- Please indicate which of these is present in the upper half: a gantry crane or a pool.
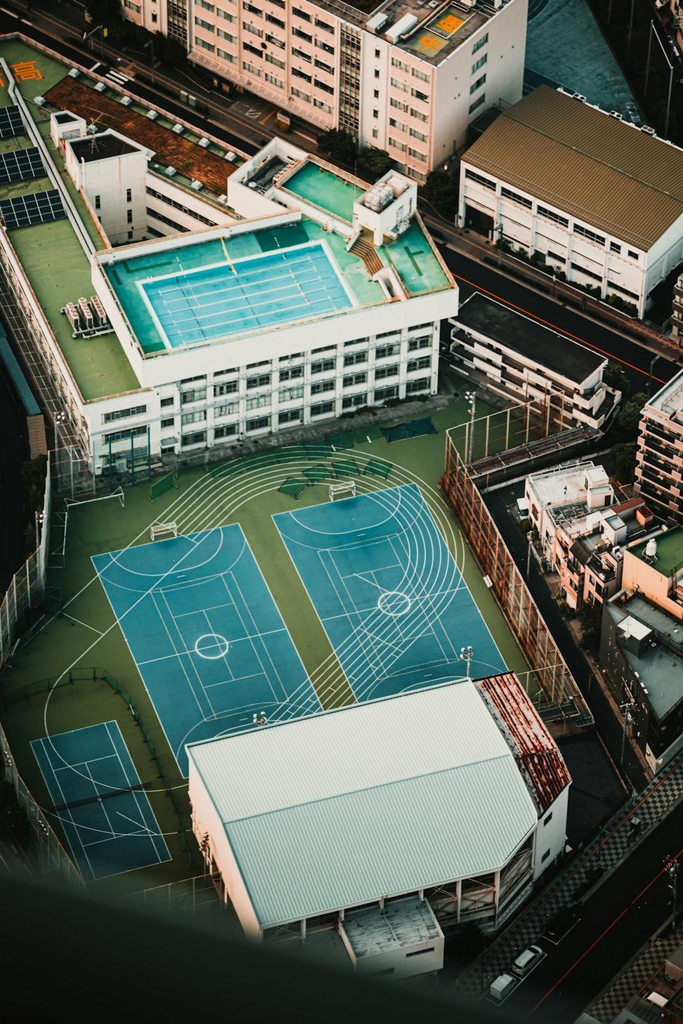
pool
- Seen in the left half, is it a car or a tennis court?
tennis court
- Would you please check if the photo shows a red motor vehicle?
No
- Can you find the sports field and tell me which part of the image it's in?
top right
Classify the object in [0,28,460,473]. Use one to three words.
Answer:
building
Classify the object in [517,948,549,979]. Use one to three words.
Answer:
car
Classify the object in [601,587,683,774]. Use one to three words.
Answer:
building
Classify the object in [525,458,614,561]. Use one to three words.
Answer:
house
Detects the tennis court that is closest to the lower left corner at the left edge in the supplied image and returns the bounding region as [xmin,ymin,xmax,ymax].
[31,720,172,876]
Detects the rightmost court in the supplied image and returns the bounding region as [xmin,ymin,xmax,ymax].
[274,483,507,696]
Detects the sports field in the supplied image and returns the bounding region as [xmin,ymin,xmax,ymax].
[533,0,644,129]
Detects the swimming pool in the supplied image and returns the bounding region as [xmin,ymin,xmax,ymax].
[104,218,450,358]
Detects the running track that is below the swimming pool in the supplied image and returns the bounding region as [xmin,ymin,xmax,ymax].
[0,435,466,839]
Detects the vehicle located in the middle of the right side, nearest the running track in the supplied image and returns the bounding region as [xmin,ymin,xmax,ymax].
[510,493,528,526]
